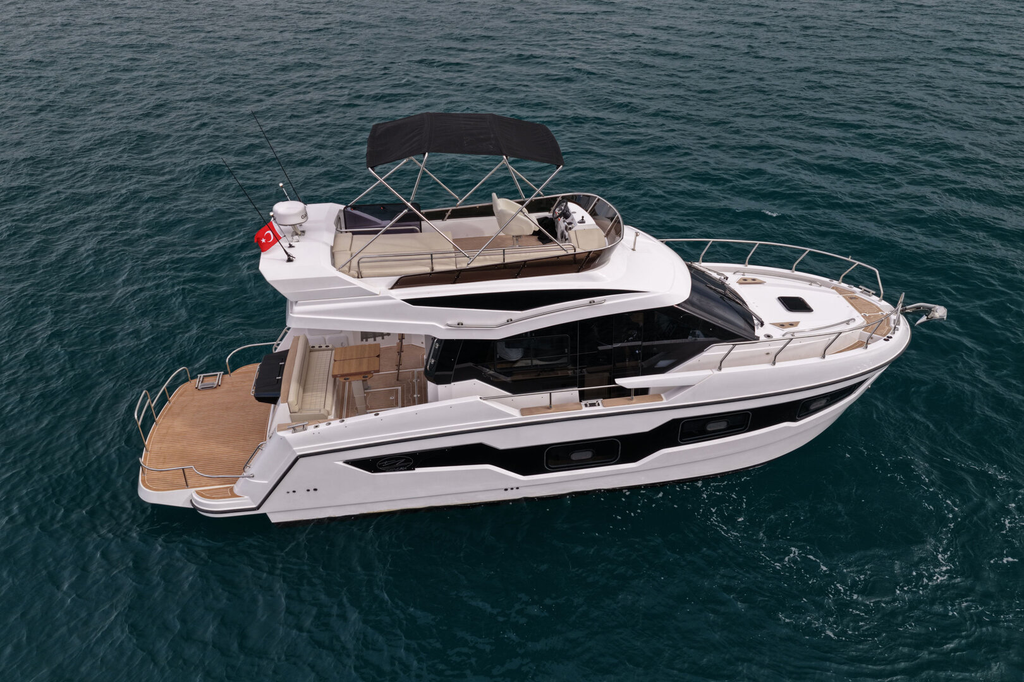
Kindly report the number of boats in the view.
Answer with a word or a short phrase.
1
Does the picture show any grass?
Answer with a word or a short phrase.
No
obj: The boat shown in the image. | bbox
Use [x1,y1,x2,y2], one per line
[135,109,916,528]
